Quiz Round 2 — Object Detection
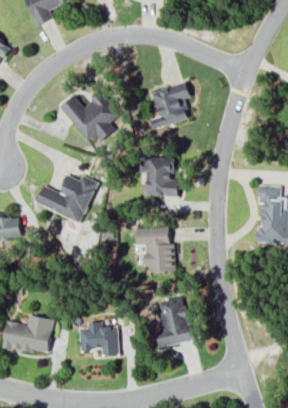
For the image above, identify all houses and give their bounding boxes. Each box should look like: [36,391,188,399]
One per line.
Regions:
[0,214,19,248]
[26,0,68,26]
[62,92,118,138]
[156,296,194,348]
[150,82,192,130]
[36,173,100,222]
[140,158,178,197]
[2,316,54,355]
[135,228,176,274]
[80,322,119,360]
[256,186,288,244]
